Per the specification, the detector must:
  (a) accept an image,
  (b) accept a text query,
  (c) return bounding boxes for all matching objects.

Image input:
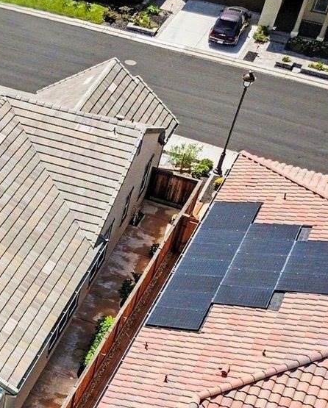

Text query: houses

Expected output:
[97,149,328,408]
[0,57,182,408]
[194,0,328,37]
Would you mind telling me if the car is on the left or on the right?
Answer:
right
